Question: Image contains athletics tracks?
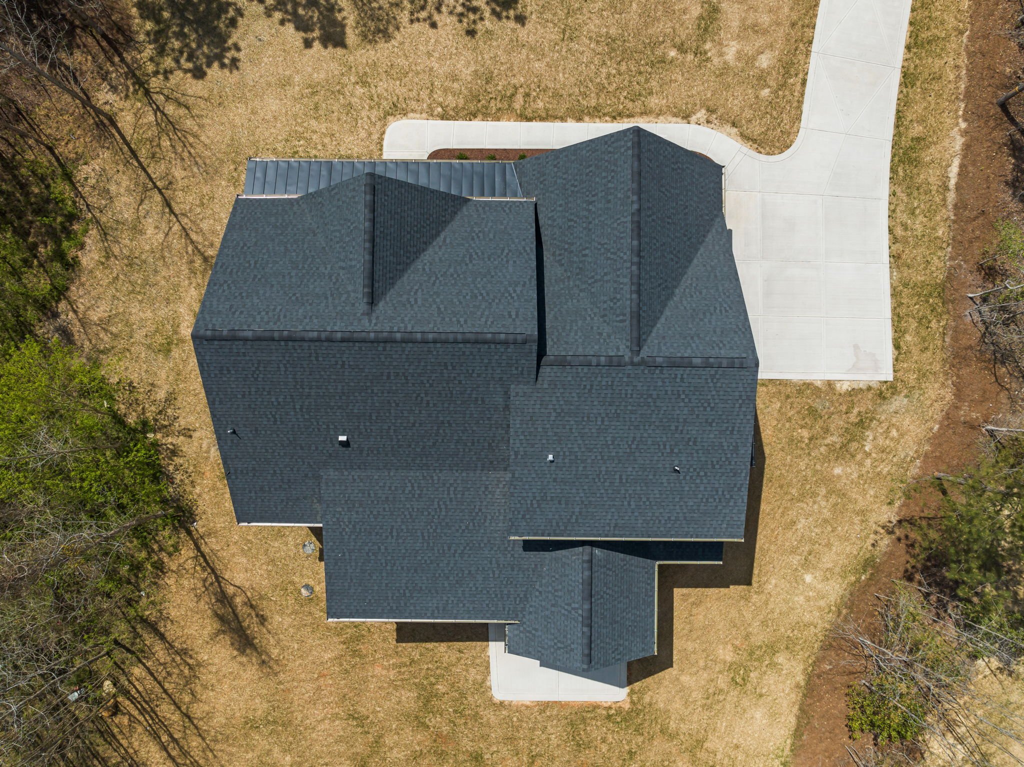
No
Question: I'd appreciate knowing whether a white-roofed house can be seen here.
No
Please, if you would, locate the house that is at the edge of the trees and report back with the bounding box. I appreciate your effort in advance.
[192,125,758,673]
